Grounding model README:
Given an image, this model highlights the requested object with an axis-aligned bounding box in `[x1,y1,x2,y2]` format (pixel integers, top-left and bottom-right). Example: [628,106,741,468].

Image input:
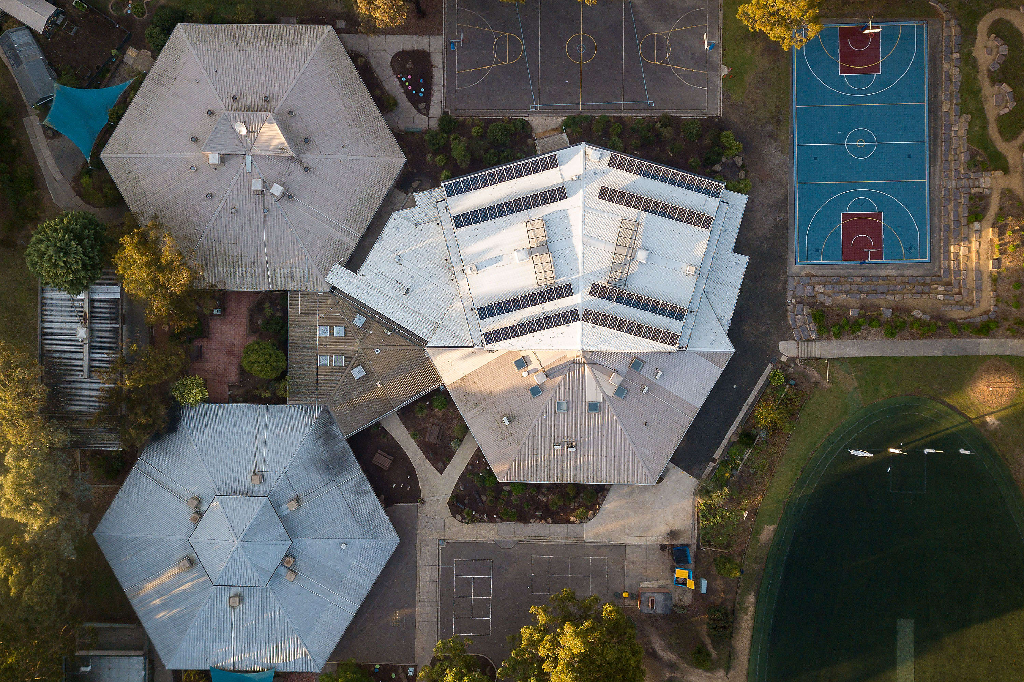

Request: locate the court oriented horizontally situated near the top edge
[446,0,718,114]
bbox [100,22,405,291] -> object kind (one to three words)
building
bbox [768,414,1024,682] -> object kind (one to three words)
sports field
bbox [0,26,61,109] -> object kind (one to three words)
shed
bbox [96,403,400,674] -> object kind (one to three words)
building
